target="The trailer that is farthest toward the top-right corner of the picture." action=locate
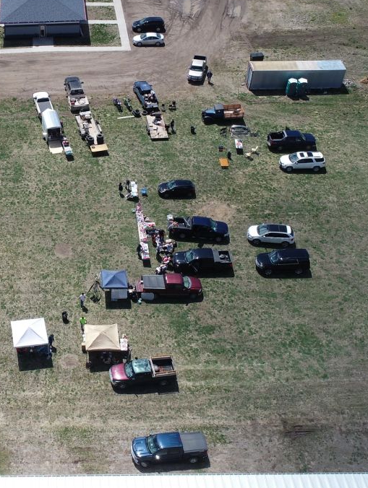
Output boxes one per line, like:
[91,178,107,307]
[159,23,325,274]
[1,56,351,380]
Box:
[246,62,347,89]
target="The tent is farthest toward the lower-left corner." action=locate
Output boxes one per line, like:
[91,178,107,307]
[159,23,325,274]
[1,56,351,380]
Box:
[11,318,49,363]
